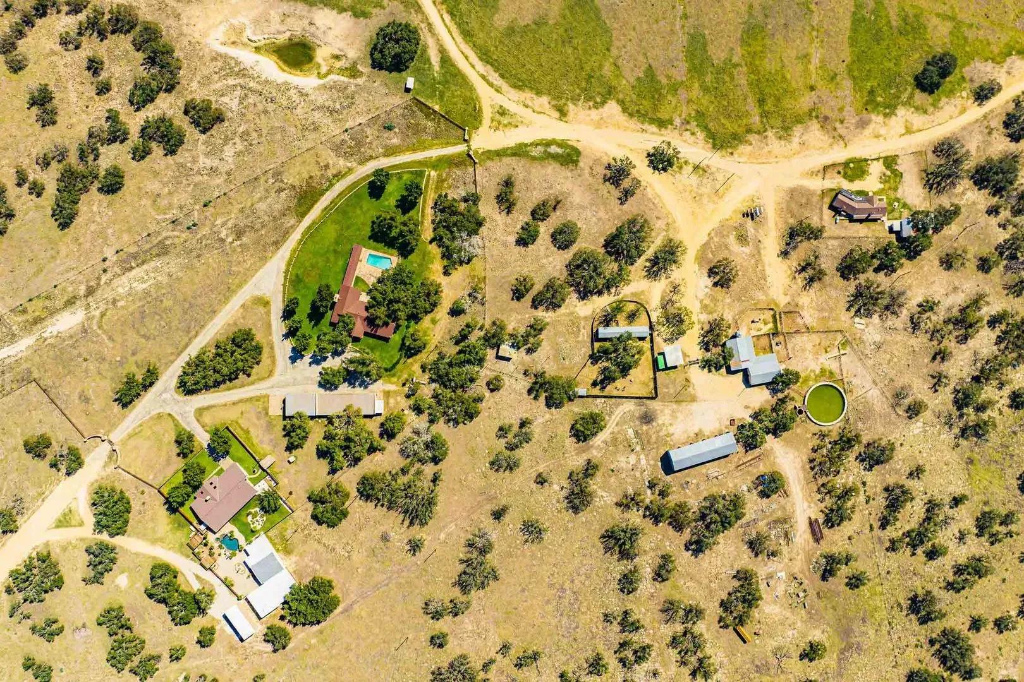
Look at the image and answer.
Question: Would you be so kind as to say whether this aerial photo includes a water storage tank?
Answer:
Yes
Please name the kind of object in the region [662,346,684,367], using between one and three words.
shed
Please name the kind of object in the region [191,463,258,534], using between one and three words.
house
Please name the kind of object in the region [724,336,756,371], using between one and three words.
barn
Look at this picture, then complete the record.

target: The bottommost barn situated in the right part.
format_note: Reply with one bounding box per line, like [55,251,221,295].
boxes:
[666,428,738,471]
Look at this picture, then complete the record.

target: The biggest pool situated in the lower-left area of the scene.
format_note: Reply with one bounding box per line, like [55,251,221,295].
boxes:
[220,534,239,551]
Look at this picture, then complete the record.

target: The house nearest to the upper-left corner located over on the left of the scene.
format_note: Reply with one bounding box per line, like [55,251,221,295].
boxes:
[331,245,395,338]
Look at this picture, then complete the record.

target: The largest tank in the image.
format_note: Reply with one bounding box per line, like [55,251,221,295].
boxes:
[803,383,847,425]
